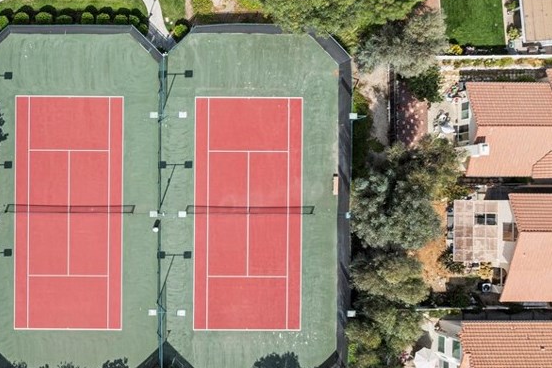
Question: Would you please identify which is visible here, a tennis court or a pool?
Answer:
tennis court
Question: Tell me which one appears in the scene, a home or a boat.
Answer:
home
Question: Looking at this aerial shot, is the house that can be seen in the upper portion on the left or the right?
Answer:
right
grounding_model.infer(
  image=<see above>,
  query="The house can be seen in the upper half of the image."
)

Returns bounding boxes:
[446,83,552,179]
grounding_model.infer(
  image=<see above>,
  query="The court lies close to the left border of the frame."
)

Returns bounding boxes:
[0,35,161,368]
